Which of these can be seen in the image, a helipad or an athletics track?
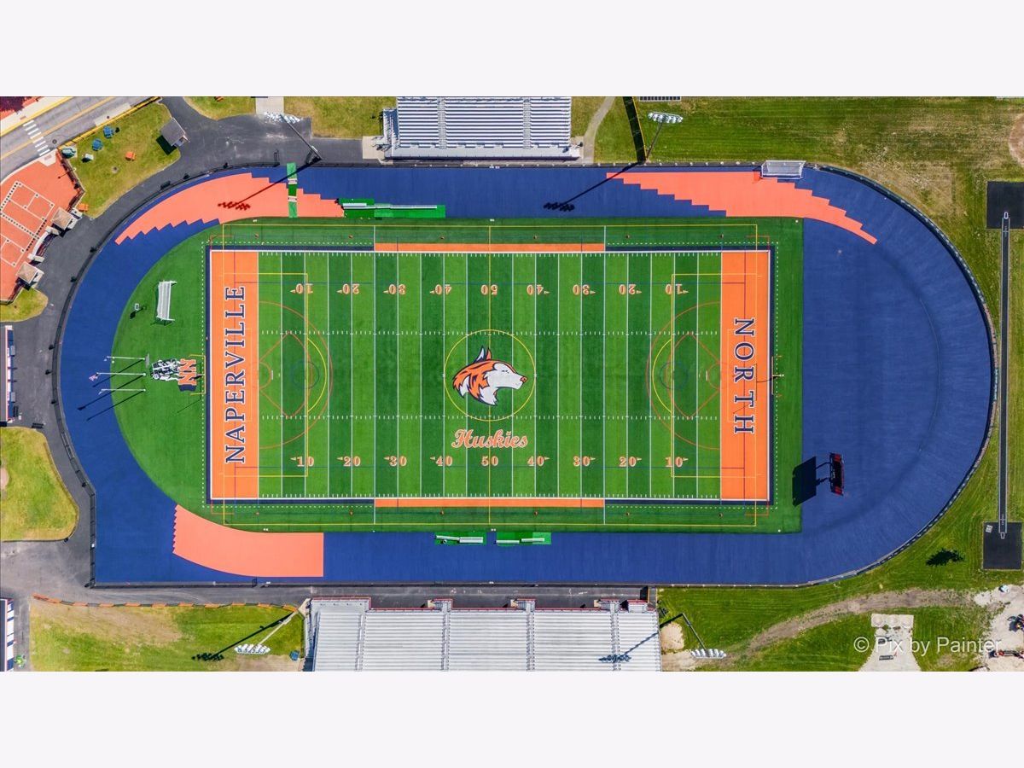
athletics track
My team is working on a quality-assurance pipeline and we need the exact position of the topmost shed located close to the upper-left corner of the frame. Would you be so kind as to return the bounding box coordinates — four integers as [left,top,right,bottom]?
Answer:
[162,120,191,149]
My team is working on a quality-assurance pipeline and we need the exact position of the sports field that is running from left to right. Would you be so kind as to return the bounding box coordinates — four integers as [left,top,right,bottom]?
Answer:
[109,217,803,534]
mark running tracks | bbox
[61,165,991,585]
